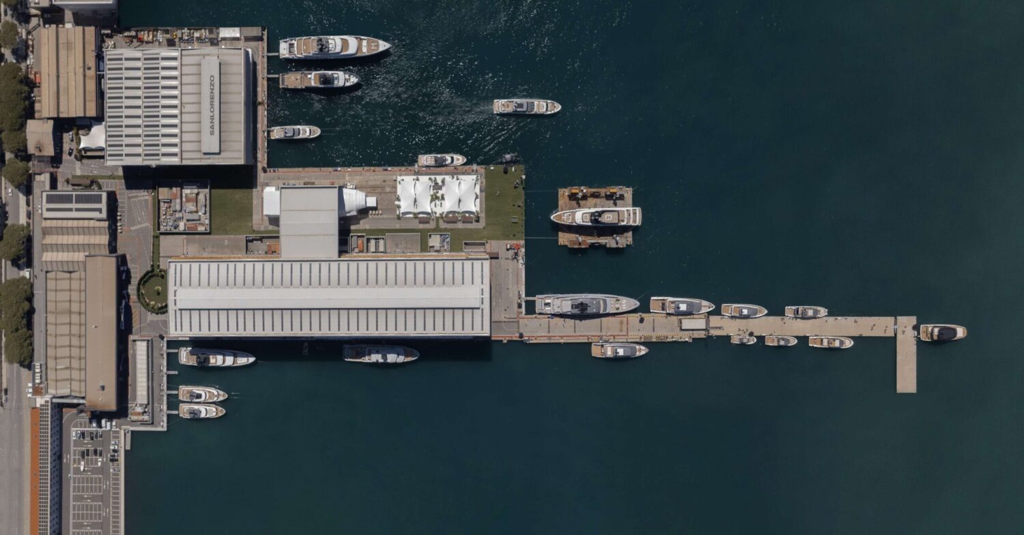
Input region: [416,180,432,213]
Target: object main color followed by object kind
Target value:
white tent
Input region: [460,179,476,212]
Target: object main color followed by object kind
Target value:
white tent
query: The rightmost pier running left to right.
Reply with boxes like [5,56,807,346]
[710,316,895,336]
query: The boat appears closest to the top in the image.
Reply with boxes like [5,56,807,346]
[281,34,391,57]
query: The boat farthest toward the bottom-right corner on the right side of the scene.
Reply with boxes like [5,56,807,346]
[919,325,968,341]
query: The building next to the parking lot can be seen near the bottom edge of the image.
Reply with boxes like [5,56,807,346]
[29,395,62,535]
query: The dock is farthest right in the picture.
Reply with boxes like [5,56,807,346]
[895,316,916,393]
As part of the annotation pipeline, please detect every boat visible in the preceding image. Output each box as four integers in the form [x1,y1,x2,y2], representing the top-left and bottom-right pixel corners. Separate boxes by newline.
[551,208,641,227]
[281,34,391,57]
[784,306,828,318]
[730,335,756,344]
[721,304,767,317]
[591,343,648,357]
[919,325,968,341]
[536,295,640,314]
[418,154,466,166]
[271,125,321,138]
[180,403,225,418]
[765,336,797,346]
[180,386,227,402]
[650,297,715,313]
[344,345,418,363]
[809,337,854,348]
[493,99,561,114]
[280,71,359,88]
[180,349,255,367]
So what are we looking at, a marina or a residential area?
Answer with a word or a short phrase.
marina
